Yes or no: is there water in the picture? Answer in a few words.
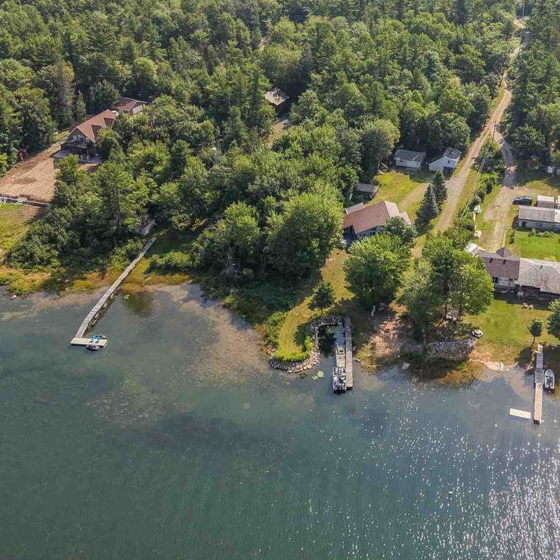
Yes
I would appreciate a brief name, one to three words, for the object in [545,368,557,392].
boat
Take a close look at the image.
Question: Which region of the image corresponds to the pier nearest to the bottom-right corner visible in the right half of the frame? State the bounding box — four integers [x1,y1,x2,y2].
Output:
[534,343,546,424]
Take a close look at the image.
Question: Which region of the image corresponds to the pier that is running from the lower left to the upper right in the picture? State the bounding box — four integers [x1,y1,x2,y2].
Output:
[68,238,160,349]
